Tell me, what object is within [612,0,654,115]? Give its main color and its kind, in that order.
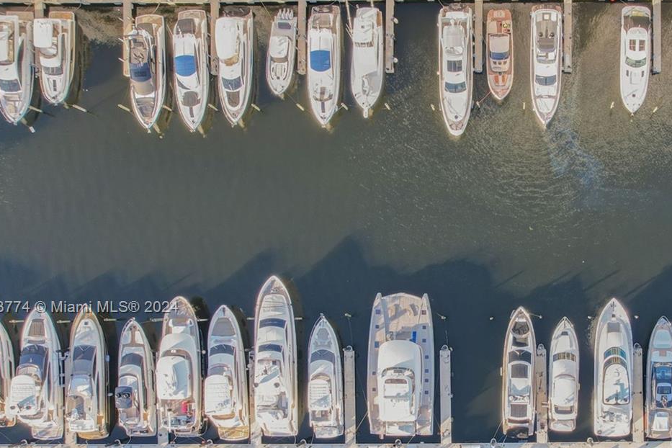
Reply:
white boat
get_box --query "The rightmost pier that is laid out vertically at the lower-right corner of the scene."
[633,348,645,441]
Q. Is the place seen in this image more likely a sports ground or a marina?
marina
